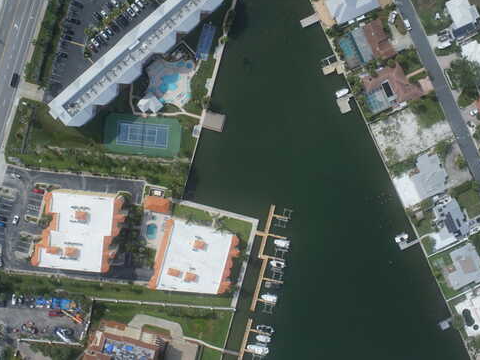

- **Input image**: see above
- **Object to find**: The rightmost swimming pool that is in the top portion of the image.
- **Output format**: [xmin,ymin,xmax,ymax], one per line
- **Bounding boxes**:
[369,95,389,112]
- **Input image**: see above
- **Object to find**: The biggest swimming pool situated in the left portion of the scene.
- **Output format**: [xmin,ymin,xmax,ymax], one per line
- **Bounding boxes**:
[156,69,184,96]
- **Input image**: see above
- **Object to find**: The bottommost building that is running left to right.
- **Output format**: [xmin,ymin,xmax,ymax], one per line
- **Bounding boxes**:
[88,327,170,360]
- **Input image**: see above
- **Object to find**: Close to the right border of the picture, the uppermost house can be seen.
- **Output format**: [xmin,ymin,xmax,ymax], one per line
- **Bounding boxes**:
[445,0,480,29]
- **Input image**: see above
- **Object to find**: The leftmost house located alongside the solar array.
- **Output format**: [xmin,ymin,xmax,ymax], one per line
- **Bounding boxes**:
[411,153,448,200]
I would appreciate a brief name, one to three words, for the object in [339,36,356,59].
swimming pool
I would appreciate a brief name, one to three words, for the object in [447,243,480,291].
house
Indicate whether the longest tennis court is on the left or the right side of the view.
left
